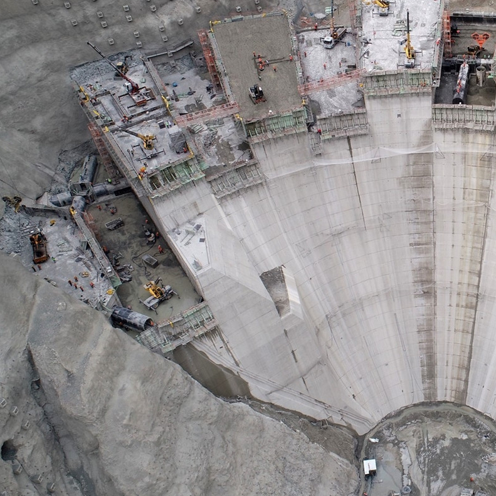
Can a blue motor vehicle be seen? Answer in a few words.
No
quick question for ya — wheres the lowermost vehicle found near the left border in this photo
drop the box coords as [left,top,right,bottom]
[22,223,48,257]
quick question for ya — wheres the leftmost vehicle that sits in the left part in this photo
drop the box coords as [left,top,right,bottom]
[7,192,24,214]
